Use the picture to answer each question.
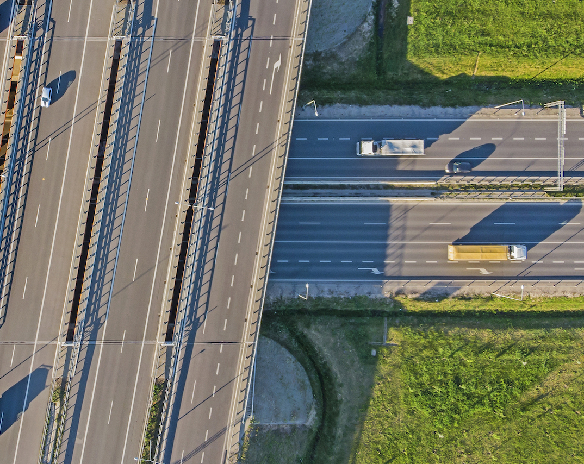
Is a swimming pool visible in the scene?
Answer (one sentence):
No, the picture doesn't show any swimming pool.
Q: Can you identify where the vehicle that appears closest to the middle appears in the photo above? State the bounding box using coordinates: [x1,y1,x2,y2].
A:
[357,140,424,156]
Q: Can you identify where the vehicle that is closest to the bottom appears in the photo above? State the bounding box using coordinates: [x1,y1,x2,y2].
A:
[447,244,525,261]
